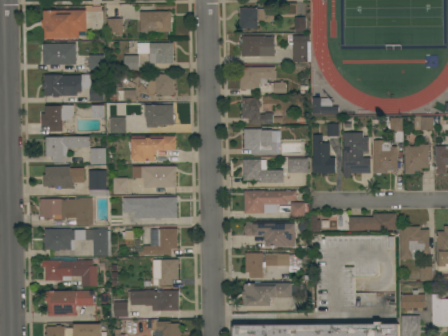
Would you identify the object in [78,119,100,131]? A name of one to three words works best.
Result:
swimming pool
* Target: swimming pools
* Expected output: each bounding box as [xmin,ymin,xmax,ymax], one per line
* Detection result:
[98,198,108,220]
[78,119,100,131]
